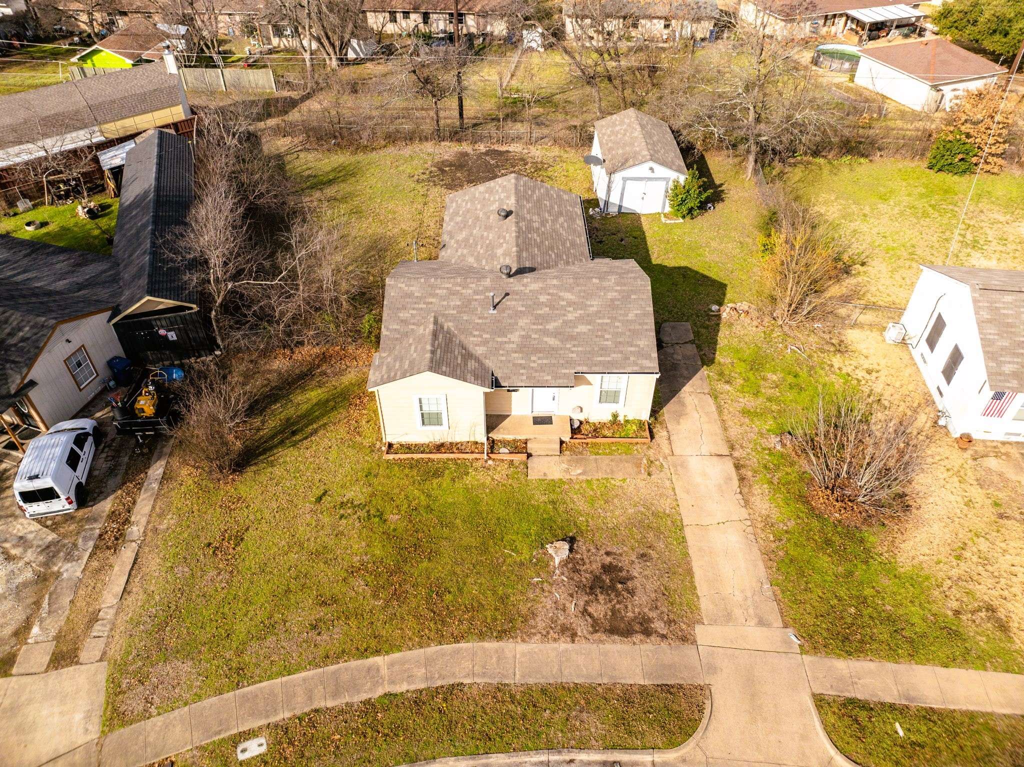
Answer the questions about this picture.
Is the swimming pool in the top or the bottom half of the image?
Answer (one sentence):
The swimming pool sits in the top half of the picture.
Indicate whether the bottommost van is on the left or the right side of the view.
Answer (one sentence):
The bottommost van is on the left side of the image.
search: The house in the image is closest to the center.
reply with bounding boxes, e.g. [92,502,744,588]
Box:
[367,173,660,462]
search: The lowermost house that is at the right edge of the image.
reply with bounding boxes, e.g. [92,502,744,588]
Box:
[895,262,1024,444]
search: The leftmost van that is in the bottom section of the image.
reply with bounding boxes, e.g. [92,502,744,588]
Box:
[13,418,105,519]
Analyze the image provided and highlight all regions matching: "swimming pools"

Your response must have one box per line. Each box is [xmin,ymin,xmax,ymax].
[806,42,869,82]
